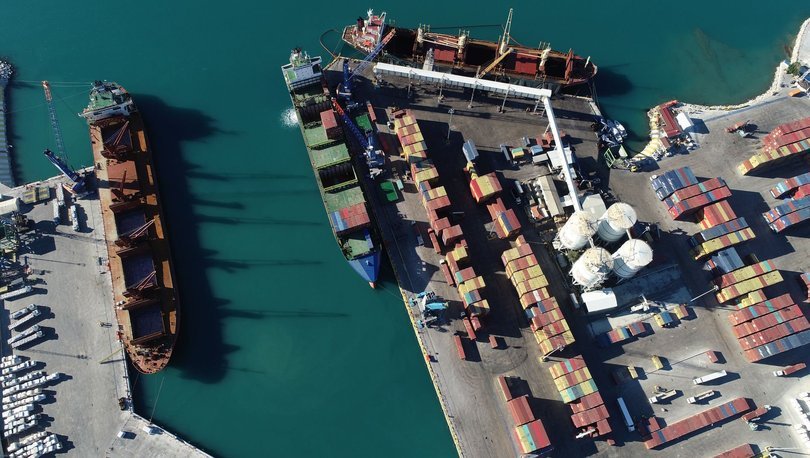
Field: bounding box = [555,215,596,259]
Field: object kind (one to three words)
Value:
silo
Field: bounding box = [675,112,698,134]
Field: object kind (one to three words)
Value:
shed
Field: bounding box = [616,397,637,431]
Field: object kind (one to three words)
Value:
vehicle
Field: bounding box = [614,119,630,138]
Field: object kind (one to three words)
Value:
boat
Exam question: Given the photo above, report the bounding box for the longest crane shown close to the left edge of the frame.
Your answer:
[40,81,95,203]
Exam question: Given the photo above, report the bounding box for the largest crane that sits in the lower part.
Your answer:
[410,278,454,326]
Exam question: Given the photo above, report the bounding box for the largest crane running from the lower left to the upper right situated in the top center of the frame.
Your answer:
[330,28,396,108]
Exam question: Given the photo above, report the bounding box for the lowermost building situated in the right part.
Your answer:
[576,284,619,317]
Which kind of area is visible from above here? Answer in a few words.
port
